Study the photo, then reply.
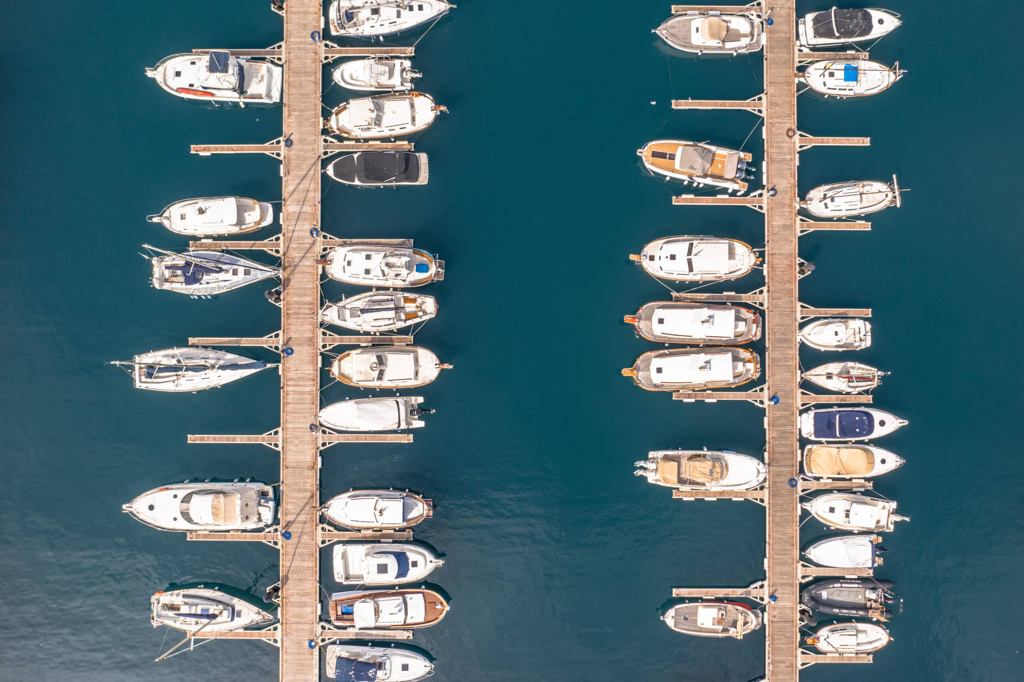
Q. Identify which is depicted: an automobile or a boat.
boat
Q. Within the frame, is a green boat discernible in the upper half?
No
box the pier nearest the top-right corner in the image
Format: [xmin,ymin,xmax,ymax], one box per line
[795,43,870,68]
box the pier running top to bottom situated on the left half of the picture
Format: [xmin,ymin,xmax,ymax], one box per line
[264,0,326,682]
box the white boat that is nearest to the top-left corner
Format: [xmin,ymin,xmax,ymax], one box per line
[145,52,283,108]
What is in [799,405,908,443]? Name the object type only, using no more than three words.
boat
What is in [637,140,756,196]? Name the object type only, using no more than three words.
boat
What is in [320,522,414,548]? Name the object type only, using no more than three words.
pier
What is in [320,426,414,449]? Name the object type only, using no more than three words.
pier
